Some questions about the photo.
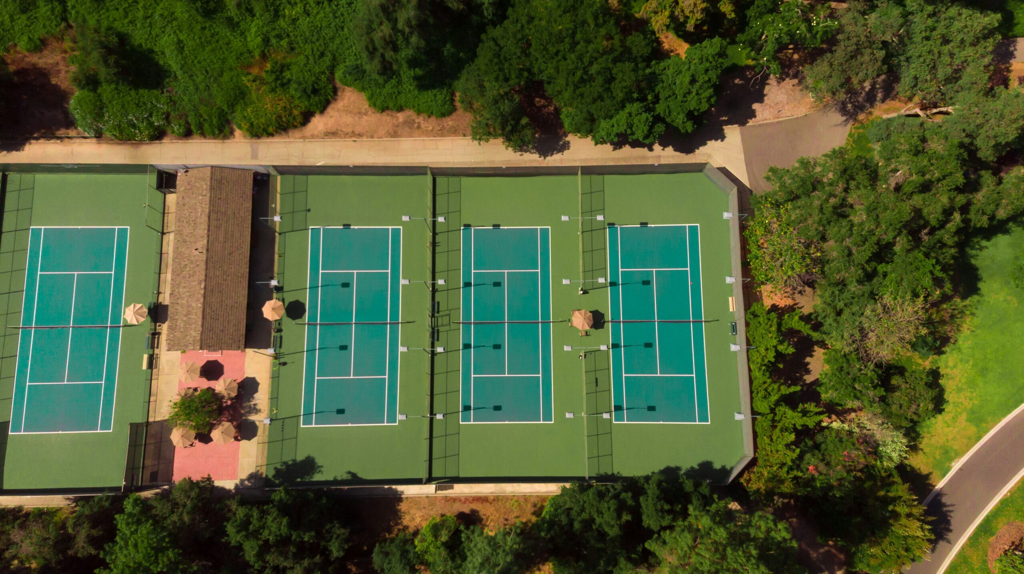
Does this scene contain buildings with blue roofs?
No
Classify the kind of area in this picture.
sports ground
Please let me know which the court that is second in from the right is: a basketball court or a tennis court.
tennis court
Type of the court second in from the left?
tennis court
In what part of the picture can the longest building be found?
left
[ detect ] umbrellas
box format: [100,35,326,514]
[263,299,285,321]
[217,376,239,399]
[172,426,196,450]
[125,303,149,326]
[571,309,593,331]
[211,420,236,446]
[181,360,203,382]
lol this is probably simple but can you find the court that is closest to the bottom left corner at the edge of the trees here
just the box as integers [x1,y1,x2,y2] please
[0,173,164,493]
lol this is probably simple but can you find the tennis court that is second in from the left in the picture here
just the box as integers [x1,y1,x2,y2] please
[265,176,432,485]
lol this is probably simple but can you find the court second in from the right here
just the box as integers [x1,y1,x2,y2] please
[429,175,586,481]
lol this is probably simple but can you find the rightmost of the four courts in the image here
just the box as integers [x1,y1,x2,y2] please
[580,173,745,482]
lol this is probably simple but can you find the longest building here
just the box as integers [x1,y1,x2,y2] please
[166,166,253,352]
